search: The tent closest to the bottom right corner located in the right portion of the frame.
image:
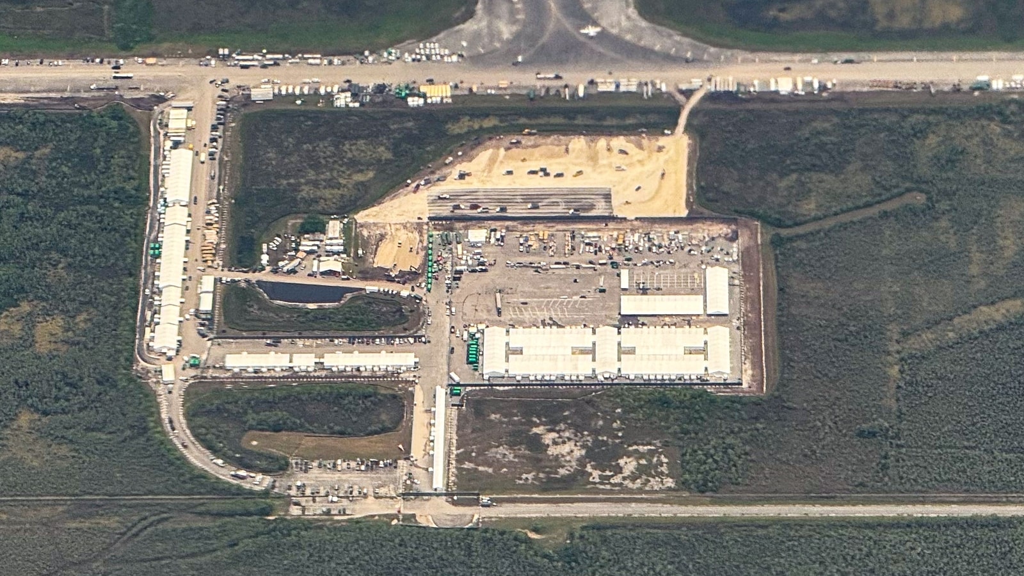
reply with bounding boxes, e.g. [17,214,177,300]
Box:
[708,326,730,377]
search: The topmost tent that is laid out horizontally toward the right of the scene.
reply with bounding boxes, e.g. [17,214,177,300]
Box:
[621,296,704,317]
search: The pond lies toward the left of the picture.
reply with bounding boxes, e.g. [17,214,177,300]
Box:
[257,280,364,304]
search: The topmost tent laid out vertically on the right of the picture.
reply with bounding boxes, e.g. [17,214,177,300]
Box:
[706,266,729,317]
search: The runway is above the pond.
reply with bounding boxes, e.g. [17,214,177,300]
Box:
[0,61,1024,83]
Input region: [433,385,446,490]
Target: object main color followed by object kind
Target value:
white tent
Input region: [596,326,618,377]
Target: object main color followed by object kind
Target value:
white tent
